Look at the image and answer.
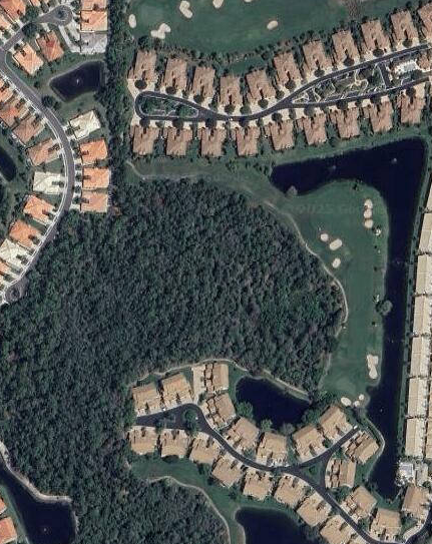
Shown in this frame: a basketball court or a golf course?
golf course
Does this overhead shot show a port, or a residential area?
residential area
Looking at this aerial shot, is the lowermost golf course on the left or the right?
right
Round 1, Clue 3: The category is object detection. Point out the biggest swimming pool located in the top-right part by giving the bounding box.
[395,60,418,73]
